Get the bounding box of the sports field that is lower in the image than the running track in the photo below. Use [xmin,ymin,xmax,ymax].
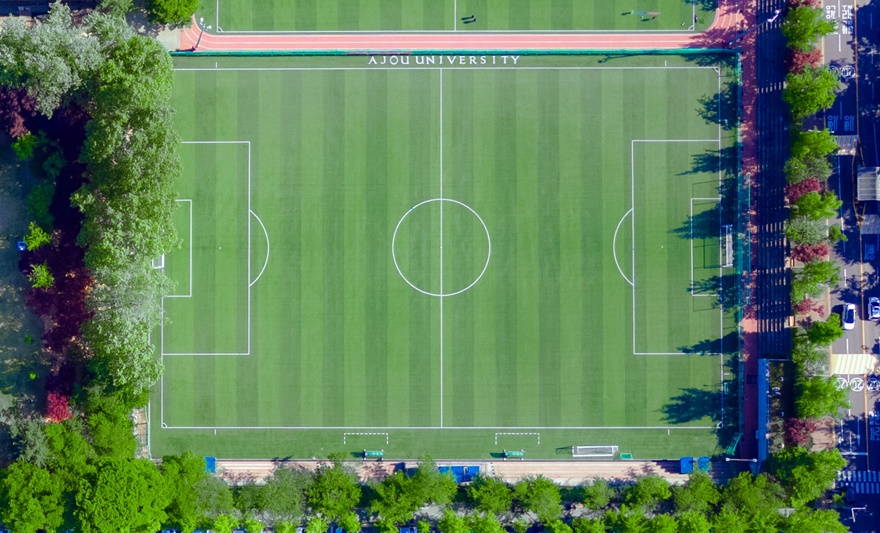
[149,54,738,459]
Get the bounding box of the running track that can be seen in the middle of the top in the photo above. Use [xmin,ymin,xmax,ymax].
[181,0,742,54]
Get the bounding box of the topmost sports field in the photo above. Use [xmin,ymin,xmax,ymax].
[194,0,717,33]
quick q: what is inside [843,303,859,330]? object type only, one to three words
car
